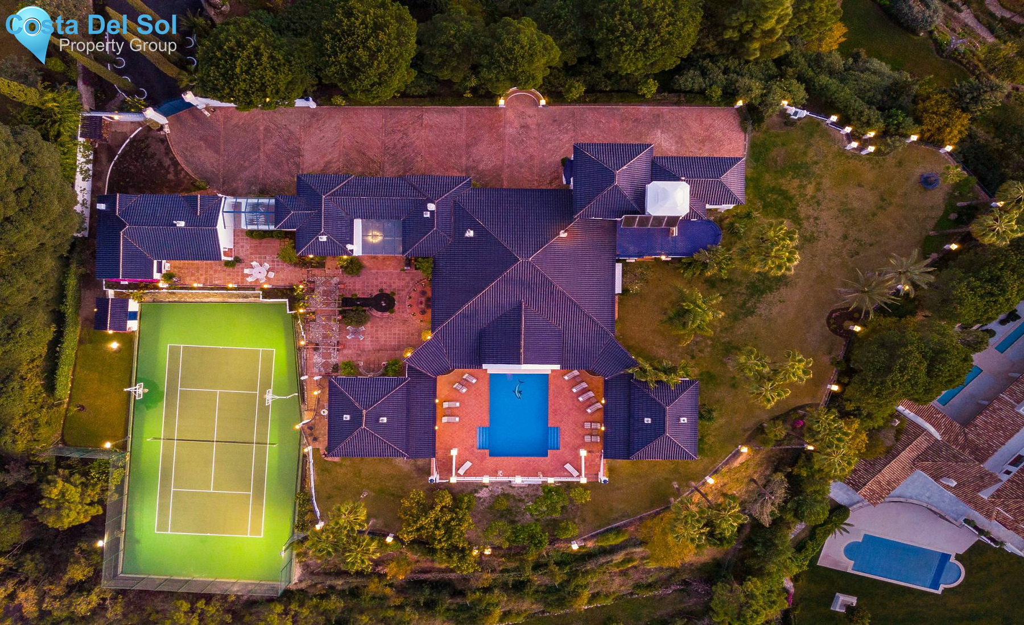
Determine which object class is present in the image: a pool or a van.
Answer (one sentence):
The image shows a pool.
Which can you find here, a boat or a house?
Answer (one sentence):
This aerial view contains a house.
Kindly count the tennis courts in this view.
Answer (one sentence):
I count 1 tennis court.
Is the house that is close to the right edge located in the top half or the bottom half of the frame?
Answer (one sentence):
It is in the bottom half that the house that is close to the right edge appears.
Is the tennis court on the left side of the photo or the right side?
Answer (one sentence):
You can find the tennis court on the left side of the picture.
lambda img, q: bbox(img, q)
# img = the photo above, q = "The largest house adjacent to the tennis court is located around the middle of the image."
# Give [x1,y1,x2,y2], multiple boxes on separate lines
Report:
[274,142,746,460]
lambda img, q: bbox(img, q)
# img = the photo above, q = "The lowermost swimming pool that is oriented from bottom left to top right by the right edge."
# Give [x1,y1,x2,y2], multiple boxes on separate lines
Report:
[948,364,984,404]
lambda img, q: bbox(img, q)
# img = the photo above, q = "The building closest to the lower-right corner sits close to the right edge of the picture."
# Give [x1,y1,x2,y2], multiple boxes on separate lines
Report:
[839,376,1024,539]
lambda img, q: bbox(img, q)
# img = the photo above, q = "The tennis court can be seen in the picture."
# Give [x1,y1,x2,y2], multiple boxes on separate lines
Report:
[122,301,304,583]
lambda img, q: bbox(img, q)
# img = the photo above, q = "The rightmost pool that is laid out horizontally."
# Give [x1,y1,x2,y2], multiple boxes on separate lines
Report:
[839,531,965,593]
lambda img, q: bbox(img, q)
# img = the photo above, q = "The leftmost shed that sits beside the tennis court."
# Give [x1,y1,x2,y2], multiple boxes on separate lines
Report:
[93,291,149,331]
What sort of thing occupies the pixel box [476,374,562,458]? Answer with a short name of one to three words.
swimming pool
